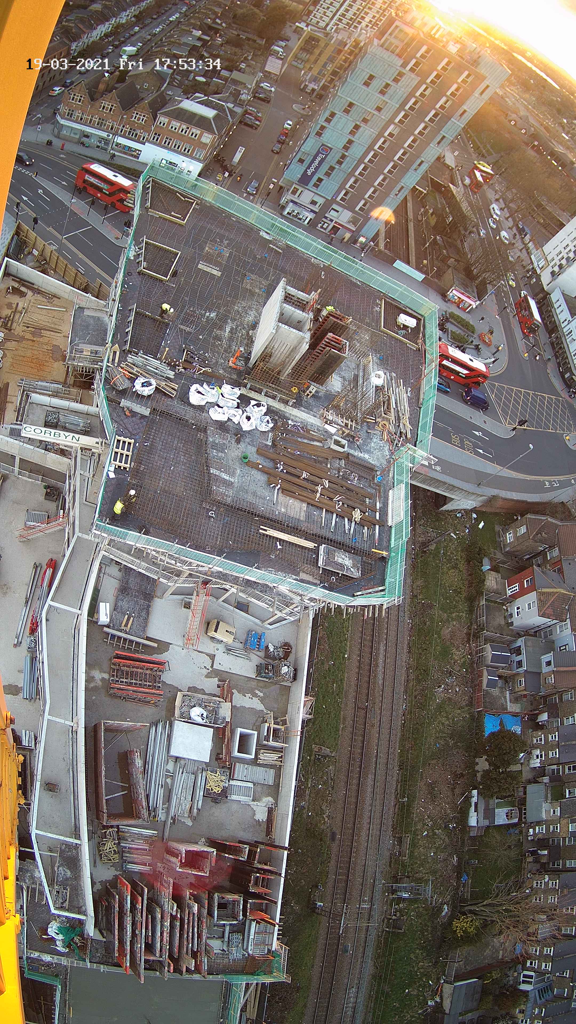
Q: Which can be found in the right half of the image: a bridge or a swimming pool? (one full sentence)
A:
The one visible in the right half of the image is a bridge.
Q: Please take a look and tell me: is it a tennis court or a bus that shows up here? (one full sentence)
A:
It is a bus that can be seen here.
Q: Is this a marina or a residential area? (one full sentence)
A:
It's a residential area.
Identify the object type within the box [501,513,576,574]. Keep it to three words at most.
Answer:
house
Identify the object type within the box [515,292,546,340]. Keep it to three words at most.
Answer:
bus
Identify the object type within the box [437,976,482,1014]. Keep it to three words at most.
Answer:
shed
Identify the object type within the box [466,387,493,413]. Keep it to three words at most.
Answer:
vehicle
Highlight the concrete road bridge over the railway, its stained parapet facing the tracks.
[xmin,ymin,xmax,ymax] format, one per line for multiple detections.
[406,462,493,521]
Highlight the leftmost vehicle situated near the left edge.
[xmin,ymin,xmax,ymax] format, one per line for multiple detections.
[18,150,41,166]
